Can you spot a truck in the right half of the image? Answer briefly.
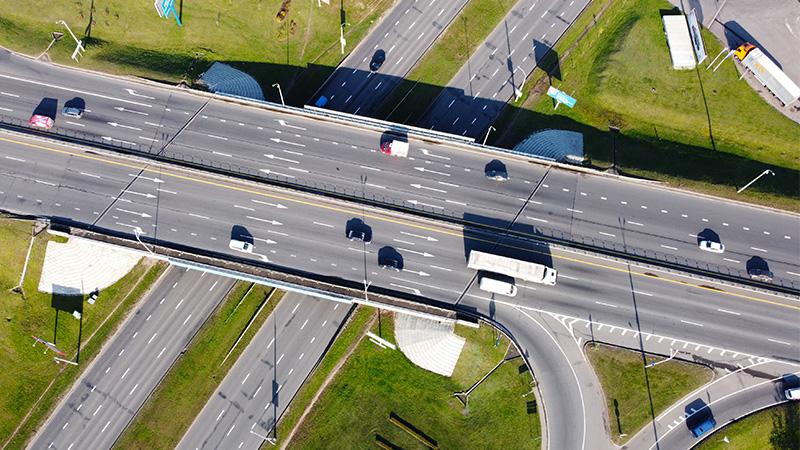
Yes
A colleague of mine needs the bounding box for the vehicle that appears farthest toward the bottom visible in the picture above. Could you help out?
[687,413,715,433]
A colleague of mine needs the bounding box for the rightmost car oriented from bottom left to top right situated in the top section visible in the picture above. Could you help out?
[369,51,387,70]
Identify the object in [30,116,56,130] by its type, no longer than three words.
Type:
vehicle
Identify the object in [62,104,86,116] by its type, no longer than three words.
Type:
vehicle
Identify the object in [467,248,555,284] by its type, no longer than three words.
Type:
truck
